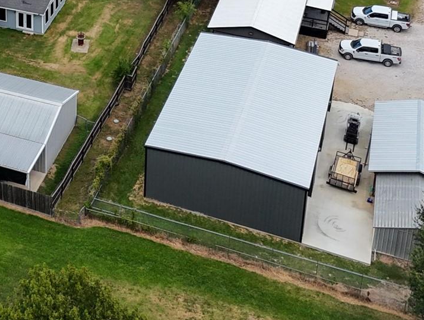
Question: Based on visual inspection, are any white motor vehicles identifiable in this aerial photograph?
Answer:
Yes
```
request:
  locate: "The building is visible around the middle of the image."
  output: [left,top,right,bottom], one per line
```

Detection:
[141,30,331,241]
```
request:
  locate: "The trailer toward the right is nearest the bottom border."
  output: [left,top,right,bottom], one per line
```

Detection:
[327,139,362,195]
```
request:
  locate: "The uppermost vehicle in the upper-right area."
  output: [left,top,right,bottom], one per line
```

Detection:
[349,2,412,32]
